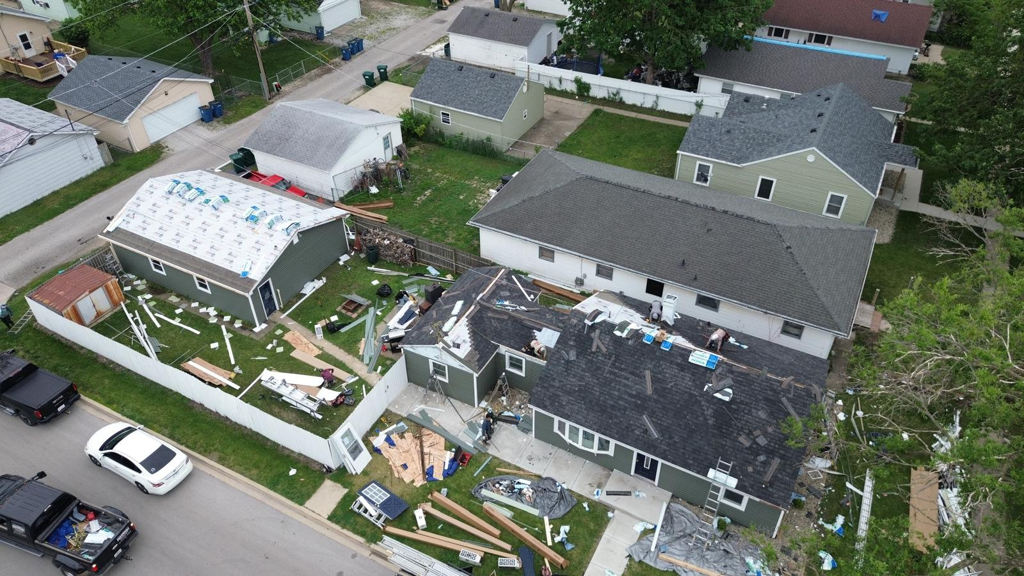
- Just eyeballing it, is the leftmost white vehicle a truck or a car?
car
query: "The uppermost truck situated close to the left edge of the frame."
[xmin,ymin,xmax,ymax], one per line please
[0,349,81,424]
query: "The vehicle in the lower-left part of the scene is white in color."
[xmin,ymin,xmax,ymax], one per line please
[86,430,193,502]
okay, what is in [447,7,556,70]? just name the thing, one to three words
building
